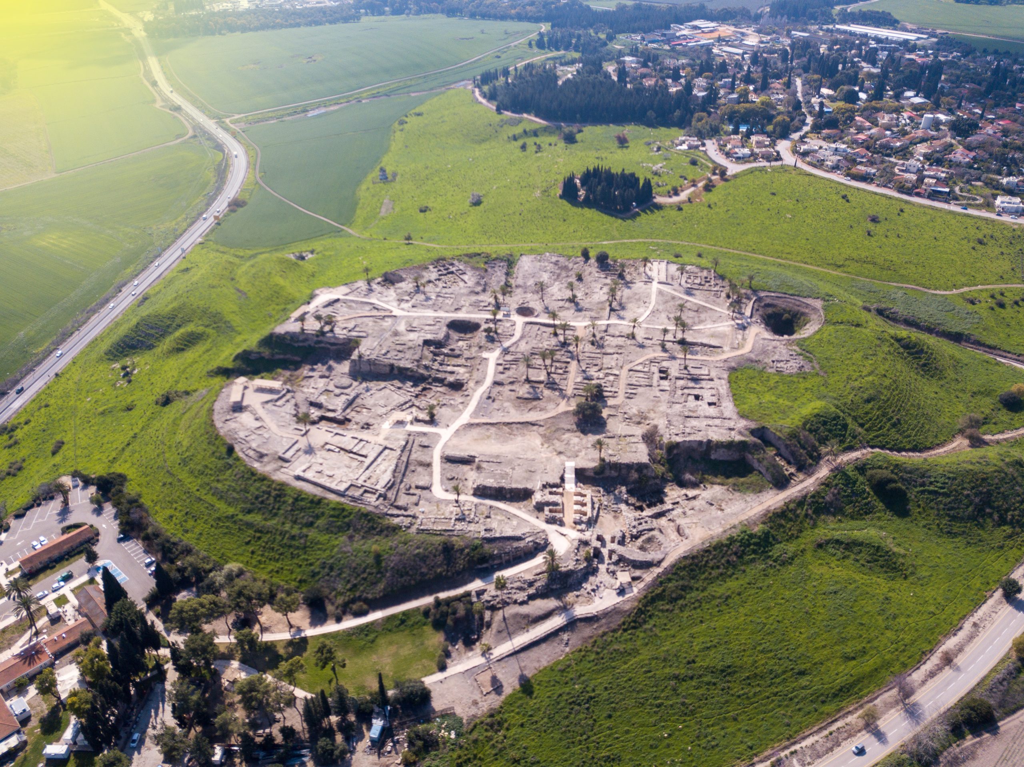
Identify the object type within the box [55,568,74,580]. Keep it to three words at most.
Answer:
vehicle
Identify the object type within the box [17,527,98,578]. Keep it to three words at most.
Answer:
shed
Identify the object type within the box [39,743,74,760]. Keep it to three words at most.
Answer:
building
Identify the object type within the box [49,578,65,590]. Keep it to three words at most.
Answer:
vehicle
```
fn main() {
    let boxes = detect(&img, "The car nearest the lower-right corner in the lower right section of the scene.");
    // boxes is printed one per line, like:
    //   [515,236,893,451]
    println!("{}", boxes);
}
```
[851,741,868,755]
